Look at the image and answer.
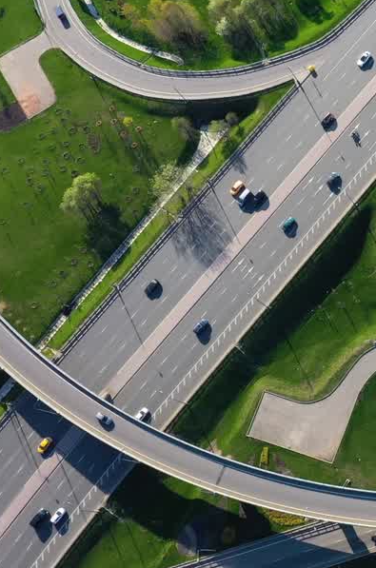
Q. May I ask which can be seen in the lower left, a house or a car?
car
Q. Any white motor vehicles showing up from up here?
Yes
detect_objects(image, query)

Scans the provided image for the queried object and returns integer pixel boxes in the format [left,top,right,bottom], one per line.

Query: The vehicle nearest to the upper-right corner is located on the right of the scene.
[355,50,372,68]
